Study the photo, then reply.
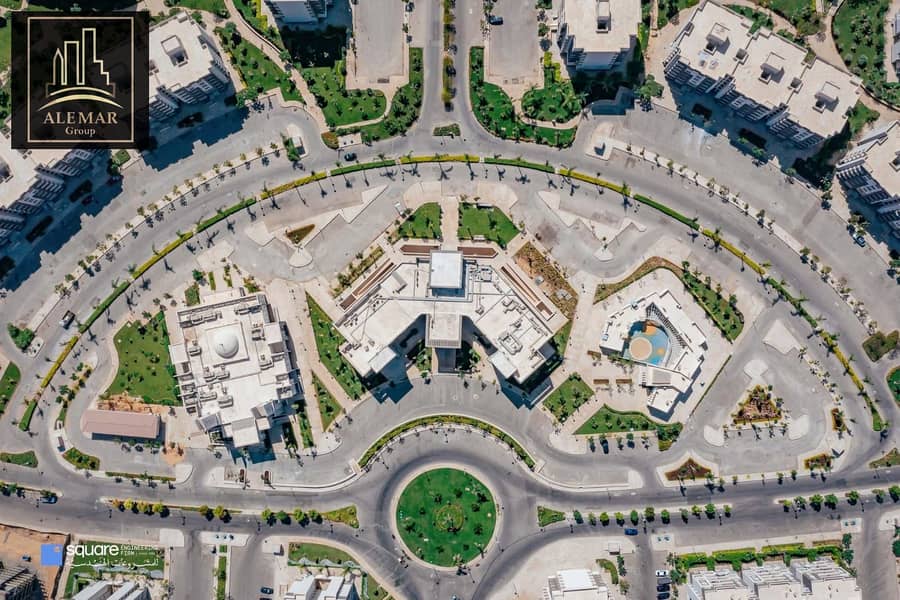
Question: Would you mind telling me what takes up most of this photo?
paved ground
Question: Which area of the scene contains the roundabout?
bottom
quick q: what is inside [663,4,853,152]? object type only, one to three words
building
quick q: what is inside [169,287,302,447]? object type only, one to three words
building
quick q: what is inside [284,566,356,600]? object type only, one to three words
house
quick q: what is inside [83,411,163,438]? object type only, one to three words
shed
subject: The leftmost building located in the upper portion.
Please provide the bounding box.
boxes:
[0,99,112,250]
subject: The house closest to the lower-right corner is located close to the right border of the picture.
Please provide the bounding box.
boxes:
[787,553,857,600]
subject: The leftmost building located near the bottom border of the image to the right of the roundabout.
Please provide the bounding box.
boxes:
[545,560,607,600]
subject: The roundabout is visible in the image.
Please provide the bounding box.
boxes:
[390,459,503,575]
